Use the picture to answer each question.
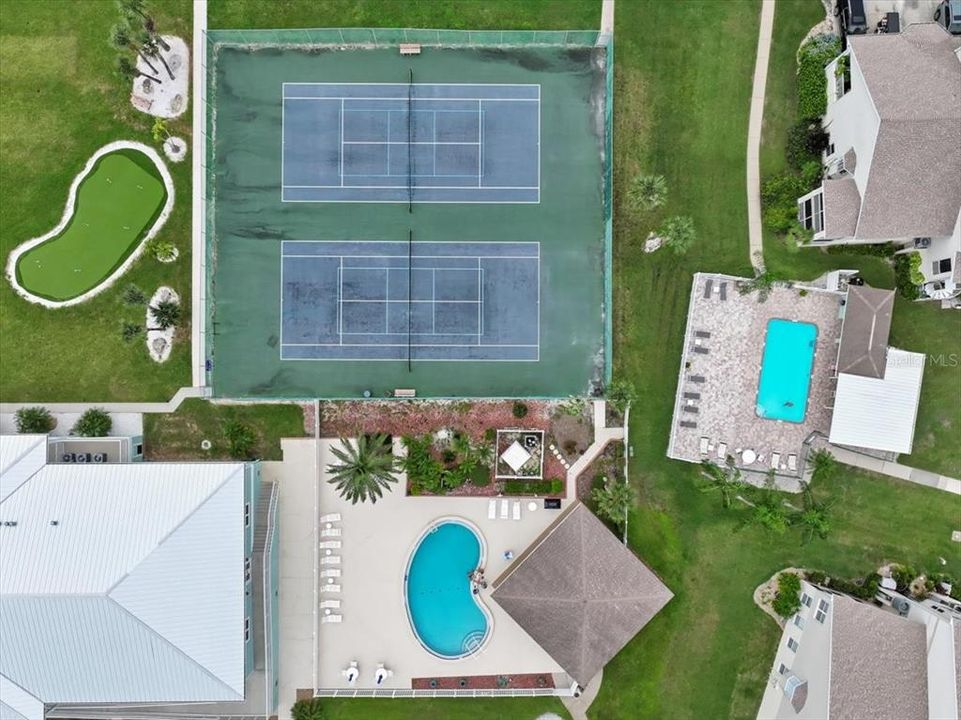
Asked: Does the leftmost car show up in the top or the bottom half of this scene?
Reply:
top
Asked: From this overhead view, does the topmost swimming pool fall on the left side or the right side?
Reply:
right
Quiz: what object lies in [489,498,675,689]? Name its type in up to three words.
building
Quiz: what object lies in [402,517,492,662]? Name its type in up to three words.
swimming pool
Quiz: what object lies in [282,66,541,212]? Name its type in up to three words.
tennis court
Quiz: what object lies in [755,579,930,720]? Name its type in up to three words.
house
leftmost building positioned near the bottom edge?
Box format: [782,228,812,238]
[0,433,279,720]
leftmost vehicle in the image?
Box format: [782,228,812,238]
[834,0,865,38]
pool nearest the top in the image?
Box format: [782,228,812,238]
[754,315,820,426]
